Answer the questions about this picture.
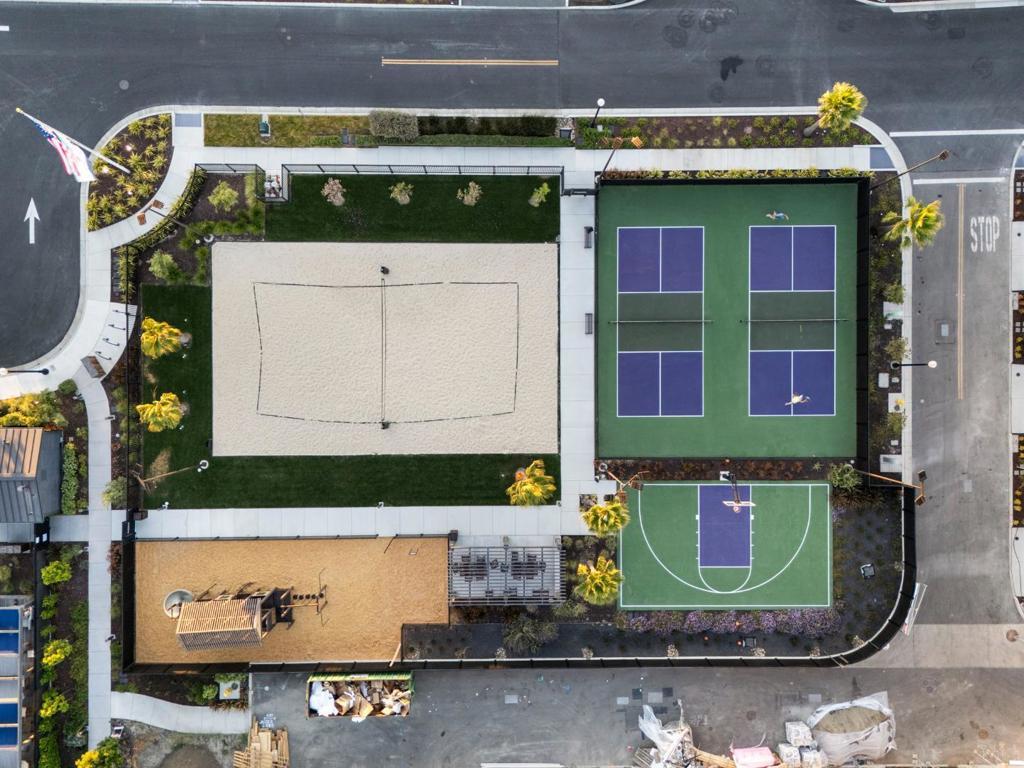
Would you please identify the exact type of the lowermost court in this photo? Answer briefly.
basketball court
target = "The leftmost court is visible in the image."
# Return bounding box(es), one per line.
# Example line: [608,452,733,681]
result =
[210,240,560,457]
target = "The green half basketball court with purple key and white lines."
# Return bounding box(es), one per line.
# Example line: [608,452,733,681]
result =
[618,481,832,609]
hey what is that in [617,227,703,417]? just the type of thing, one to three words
sports court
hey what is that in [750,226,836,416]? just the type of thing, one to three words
sports court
